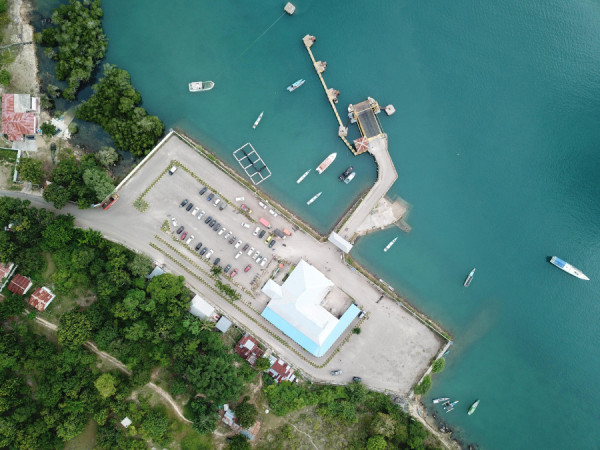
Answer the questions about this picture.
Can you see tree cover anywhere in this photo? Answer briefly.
Yes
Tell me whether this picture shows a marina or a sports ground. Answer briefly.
marina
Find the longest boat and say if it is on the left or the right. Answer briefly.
right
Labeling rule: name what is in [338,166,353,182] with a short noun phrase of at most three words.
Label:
boat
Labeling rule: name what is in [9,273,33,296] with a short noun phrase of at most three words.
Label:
house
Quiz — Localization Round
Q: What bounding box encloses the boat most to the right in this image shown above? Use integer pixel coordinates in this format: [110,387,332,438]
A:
[549,256,591,280]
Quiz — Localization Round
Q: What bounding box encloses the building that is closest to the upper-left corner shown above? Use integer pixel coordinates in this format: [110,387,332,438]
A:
[0,92,41,142]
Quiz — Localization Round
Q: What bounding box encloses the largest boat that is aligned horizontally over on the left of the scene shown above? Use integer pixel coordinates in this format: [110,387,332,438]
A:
[188,79,215,93]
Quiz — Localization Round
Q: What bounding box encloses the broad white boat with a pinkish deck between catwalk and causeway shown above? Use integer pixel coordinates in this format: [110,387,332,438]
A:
[316,152,337,173]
